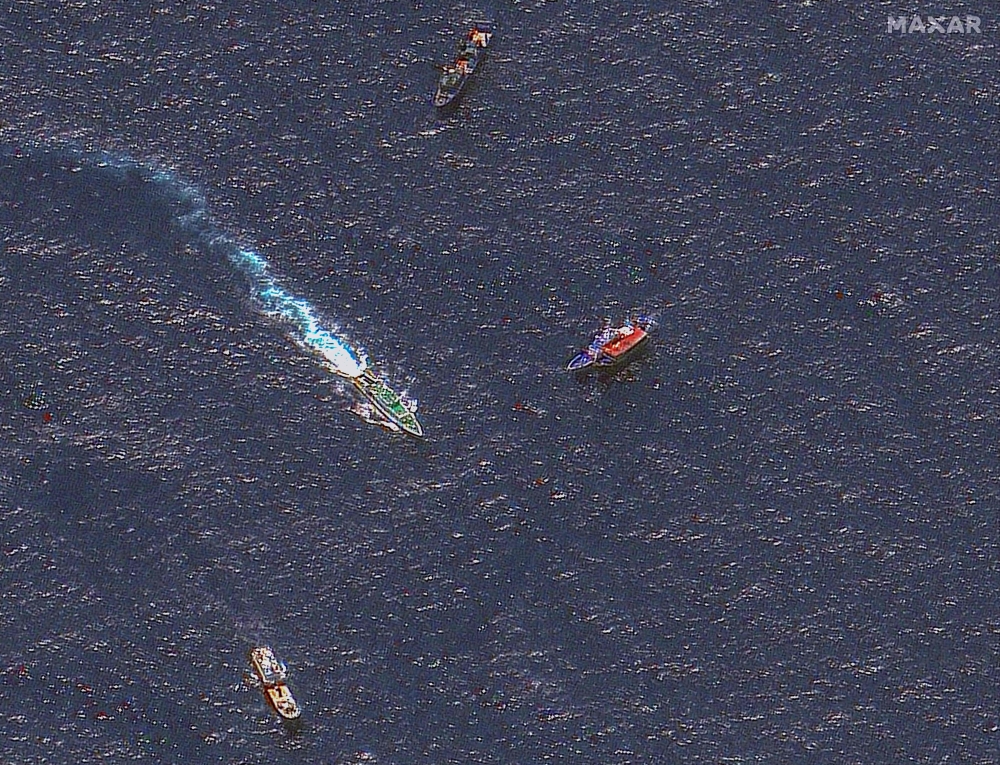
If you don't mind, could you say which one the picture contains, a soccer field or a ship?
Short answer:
ship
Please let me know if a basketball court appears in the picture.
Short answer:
No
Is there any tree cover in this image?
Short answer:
No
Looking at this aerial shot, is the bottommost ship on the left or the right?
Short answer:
left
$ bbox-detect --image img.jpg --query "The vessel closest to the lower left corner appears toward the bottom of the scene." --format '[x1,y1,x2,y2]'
[251,646,301,719]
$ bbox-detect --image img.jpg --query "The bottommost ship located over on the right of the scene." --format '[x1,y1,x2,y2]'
[567,312,656,371]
